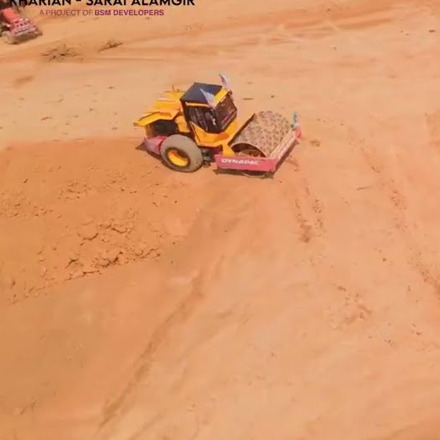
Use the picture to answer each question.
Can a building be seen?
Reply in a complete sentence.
No, this view has no building in it.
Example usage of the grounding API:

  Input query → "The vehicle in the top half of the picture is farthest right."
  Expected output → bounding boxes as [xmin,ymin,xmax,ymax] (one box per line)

[127,85,297,179]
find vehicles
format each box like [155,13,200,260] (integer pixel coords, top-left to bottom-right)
[0,0,40,47]
[127,85,297,179]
